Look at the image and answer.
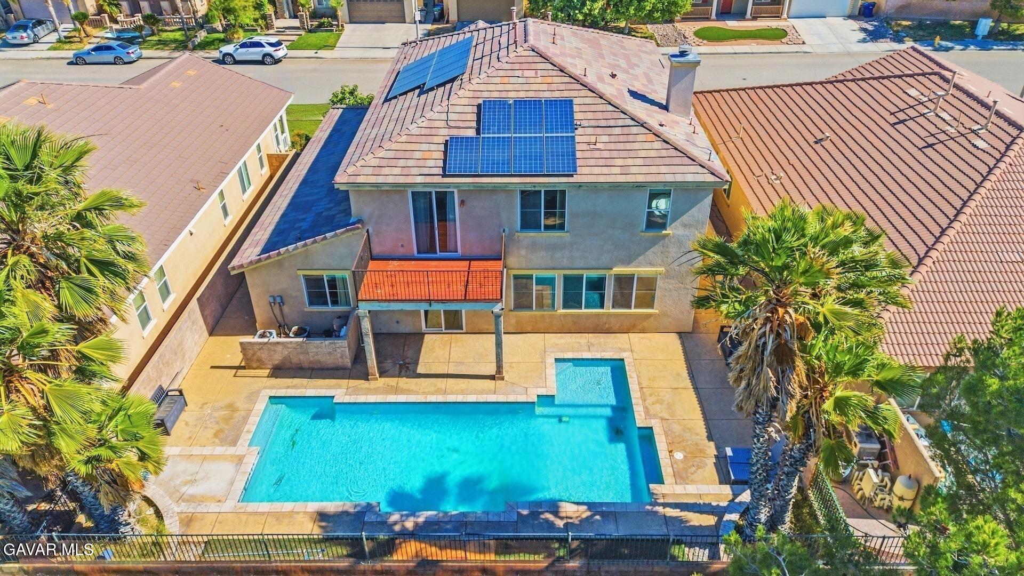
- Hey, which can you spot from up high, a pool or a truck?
pool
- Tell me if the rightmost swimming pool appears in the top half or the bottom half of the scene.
bottom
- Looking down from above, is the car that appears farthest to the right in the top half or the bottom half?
top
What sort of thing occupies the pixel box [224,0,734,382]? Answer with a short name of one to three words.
house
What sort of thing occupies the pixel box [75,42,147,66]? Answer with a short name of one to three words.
car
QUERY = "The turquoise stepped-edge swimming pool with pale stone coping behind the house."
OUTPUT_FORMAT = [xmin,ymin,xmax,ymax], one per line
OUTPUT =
[223,352,679,522]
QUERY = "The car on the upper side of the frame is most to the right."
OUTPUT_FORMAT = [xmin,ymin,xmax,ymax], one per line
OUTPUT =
[223,36,292,65]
